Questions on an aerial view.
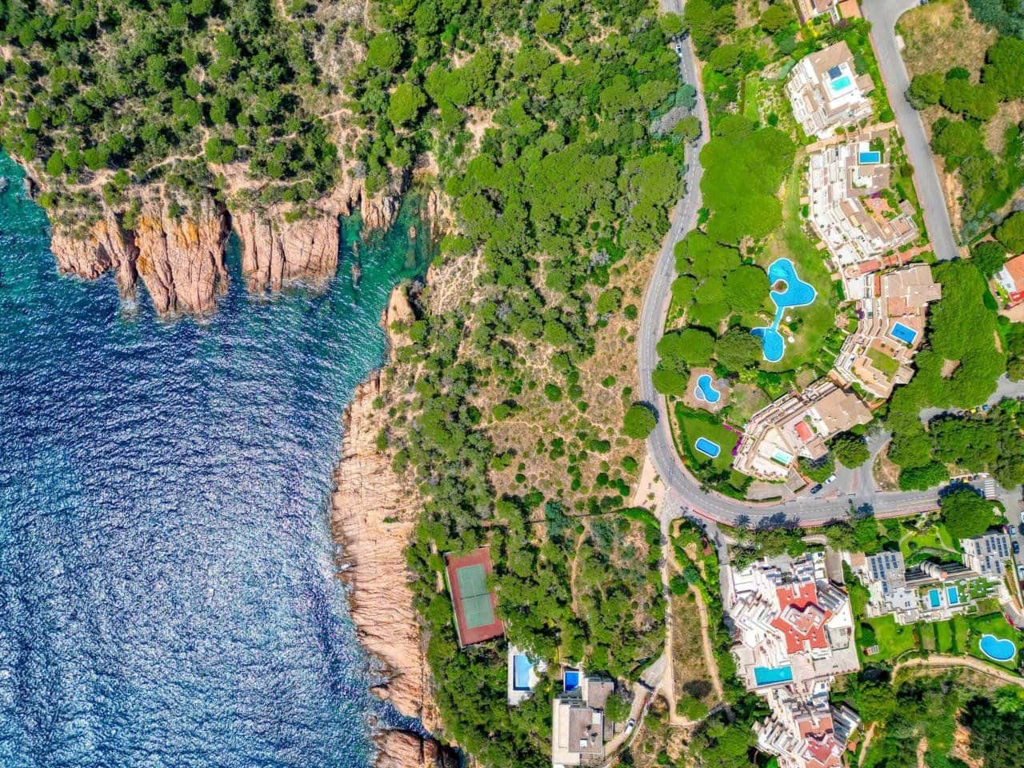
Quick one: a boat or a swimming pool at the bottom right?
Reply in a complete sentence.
What appears at the bottom right is a swimming pool.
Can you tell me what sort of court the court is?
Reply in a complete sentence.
I'd say the court is a tennis court.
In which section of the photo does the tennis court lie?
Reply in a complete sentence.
The tennis court sits in the bottom section of the image.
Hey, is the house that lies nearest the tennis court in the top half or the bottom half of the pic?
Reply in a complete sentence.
The bottom half of the photo is where the house that lies nearest the tennis court is.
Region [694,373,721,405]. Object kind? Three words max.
swimming pool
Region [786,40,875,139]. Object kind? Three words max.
house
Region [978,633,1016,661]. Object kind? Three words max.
swimming pool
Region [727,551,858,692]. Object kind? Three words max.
building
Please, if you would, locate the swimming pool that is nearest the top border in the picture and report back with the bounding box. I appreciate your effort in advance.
[830,74,852,92]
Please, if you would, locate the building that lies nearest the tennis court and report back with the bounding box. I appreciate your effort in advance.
[552,664,614,768]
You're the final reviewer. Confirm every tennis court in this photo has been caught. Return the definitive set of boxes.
[446,548,504,646]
